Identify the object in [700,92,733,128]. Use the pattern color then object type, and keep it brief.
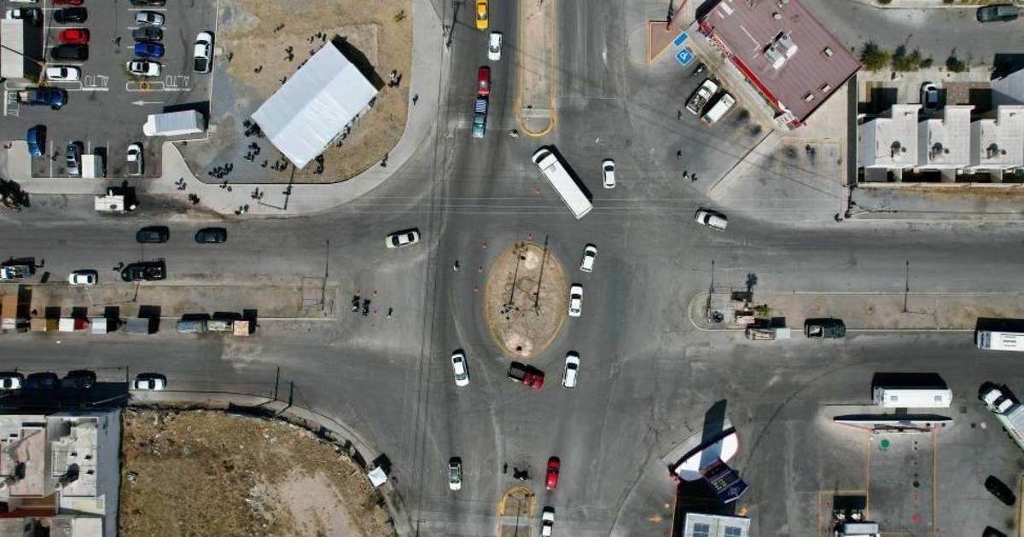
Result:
white van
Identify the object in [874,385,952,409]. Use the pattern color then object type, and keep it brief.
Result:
white bus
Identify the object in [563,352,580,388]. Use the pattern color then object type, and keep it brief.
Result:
white car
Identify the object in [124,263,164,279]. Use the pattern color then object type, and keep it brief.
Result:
black vehicle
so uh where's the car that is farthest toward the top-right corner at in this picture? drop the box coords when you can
[979,5,1015,21]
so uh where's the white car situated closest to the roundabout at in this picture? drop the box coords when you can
[568,284,584,317]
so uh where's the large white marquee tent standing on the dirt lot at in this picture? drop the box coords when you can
[252,42,381,171]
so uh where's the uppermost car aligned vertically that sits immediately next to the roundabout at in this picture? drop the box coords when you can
[580,244,597,273]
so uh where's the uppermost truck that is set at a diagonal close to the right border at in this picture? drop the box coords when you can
[976,394,1024,453]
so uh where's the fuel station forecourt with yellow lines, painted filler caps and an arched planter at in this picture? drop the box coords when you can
[755,404,1024,537]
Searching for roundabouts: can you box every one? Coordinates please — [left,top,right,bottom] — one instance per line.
[484,241,570,358]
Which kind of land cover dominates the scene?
paved ground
